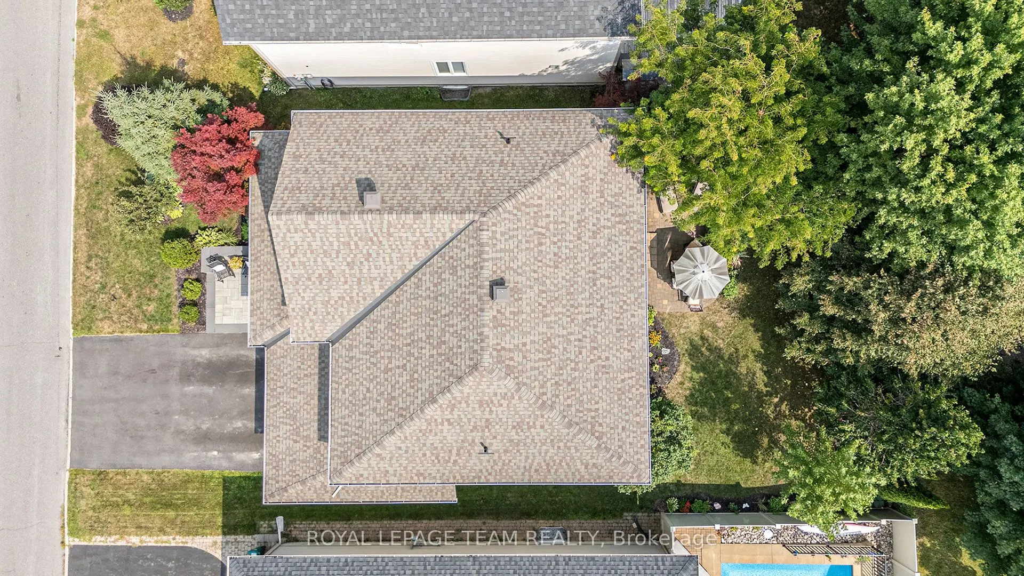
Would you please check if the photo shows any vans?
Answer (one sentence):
No, I can see no van in this picture.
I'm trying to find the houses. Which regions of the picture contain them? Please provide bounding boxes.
[229,531,698,576]
[248,108,650,503]
[215,0,645,91]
